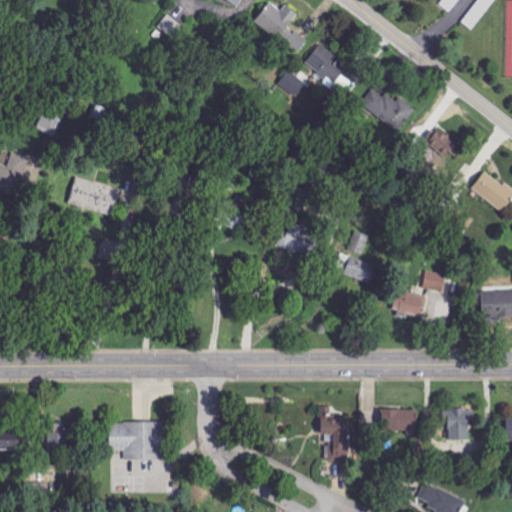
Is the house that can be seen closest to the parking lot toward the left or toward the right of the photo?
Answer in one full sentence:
The house that can be seen closest to the parking lot appears in the left half of the scene.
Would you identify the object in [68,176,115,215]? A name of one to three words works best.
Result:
house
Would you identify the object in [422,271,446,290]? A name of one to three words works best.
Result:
building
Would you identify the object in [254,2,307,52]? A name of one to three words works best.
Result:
house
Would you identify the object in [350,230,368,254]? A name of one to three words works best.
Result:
building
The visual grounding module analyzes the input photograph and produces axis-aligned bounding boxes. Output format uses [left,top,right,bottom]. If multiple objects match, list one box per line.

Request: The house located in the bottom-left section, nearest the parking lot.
[109,422,164,460]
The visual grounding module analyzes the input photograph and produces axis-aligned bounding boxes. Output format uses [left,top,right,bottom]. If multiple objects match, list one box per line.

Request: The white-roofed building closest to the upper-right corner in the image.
[462,0,490,28]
